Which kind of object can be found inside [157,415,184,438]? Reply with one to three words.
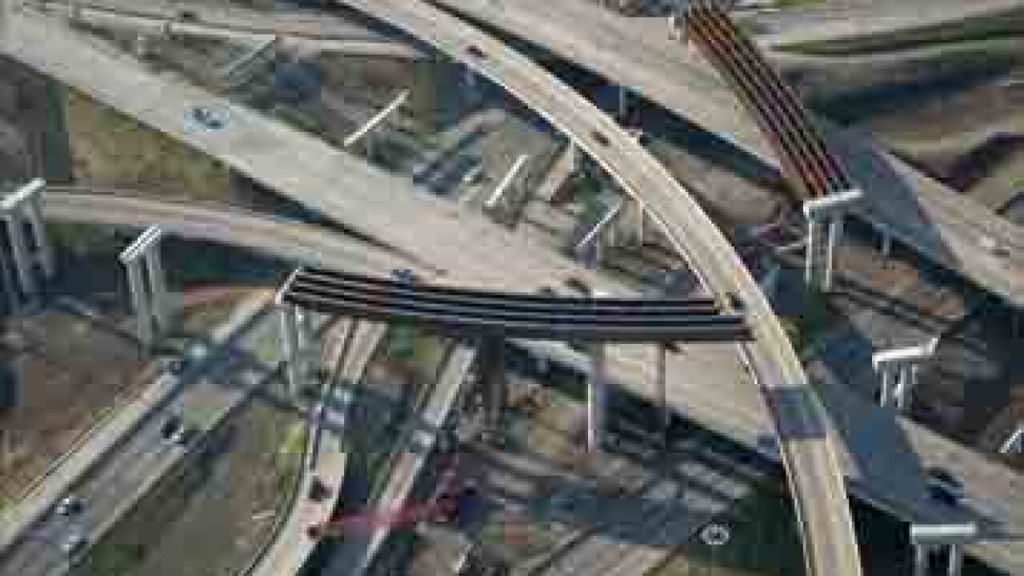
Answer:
car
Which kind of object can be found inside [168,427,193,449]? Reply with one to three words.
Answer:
car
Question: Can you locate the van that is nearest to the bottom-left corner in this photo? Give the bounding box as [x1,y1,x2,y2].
[53,530,88,560]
